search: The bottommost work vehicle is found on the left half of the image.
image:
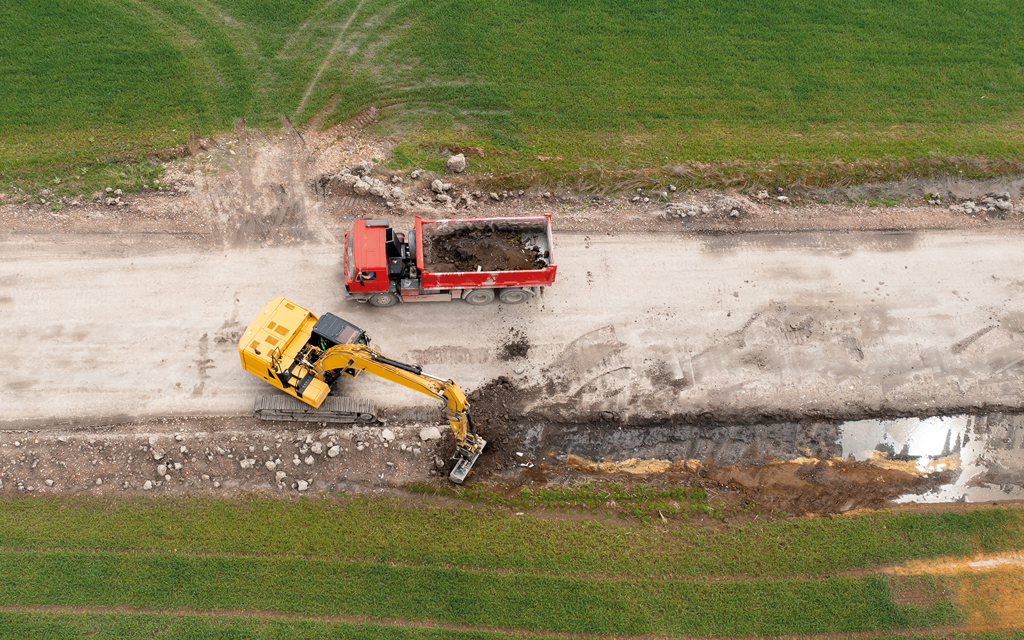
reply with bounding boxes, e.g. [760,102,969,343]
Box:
[237,299,490,481]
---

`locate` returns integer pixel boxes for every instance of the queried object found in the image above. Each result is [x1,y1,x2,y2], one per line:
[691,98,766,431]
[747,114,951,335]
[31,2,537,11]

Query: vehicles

[343,212,557,306]
[237,299,490,481]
